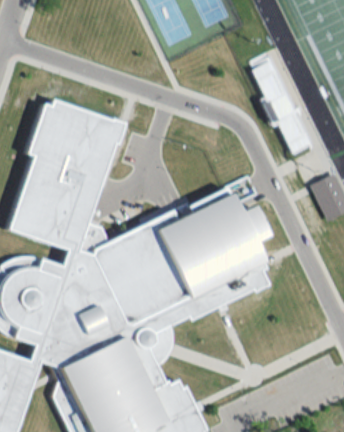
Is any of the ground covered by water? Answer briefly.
No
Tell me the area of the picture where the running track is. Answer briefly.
top right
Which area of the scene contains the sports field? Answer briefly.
top right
